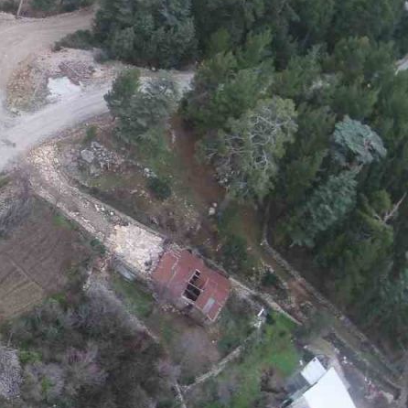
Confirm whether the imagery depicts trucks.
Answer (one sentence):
No, the scene contains no truck.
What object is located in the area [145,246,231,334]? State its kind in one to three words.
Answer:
shed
